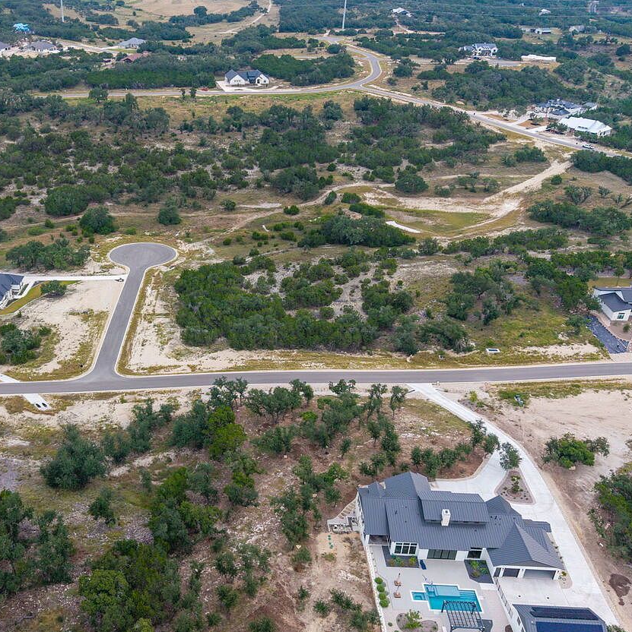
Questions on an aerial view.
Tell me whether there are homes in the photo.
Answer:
Yes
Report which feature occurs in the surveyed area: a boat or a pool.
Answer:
pool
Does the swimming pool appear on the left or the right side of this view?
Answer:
right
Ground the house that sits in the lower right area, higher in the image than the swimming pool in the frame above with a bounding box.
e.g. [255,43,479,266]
[357,469,565,581]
